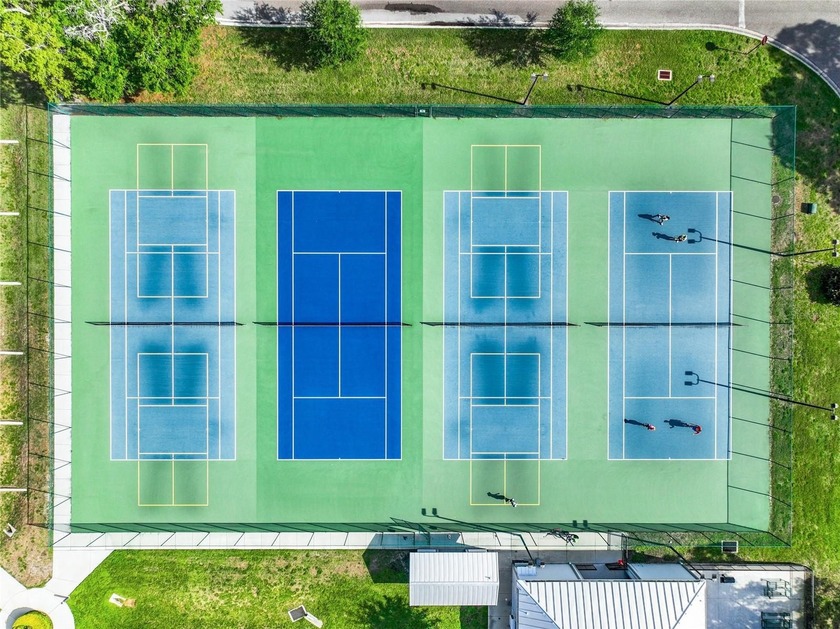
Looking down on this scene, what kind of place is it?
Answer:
sports ground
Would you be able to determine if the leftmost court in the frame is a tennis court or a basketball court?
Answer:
tennis court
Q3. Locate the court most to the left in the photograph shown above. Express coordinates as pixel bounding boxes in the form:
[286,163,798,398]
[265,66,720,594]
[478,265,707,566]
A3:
[71,117,256,532]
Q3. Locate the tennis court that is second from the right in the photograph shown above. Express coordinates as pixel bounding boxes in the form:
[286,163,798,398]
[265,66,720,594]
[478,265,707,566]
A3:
[423,117,588,532]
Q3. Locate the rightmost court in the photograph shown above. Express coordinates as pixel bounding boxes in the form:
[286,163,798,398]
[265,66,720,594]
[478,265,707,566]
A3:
[588,117,772,532]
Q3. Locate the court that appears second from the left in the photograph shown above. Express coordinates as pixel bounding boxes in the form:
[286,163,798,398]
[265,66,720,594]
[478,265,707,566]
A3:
[256,117,423,532]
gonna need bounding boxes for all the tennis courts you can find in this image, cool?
[256,117,423,532]
[71,117,256,532]
[423,117,588,532]
[588,117,772,532]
